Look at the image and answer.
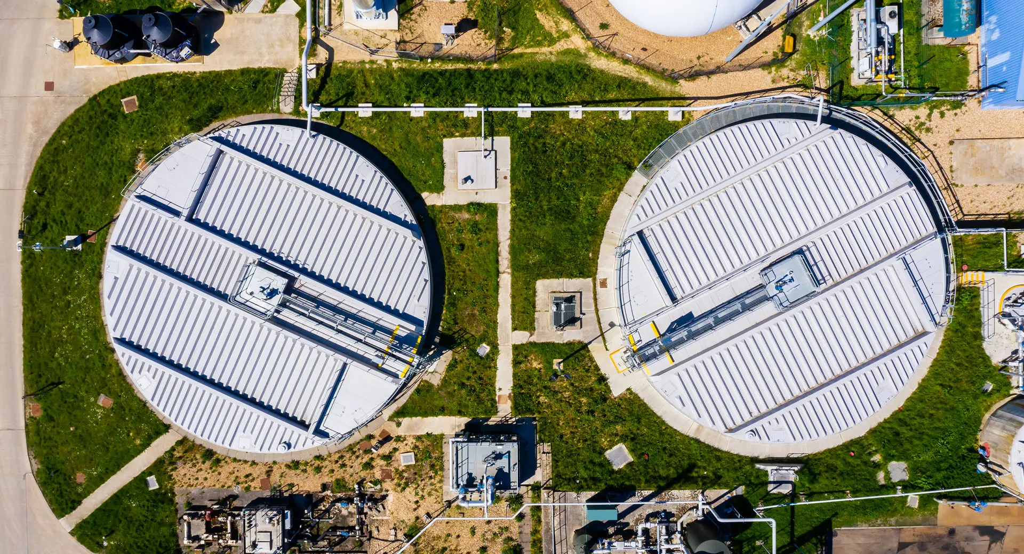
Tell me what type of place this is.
industrial area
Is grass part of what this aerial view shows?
Yes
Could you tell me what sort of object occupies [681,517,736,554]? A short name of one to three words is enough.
storage tank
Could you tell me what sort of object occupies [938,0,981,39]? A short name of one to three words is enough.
storage tank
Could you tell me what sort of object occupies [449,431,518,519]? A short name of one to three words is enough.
building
